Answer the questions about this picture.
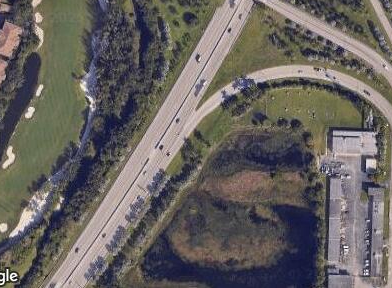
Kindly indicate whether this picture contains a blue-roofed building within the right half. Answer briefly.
No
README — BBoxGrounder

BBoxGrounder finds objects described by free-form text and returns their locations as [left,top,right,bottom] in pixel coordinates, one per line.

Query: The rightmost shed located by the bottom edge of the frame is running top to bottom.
[369,188,384,276]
